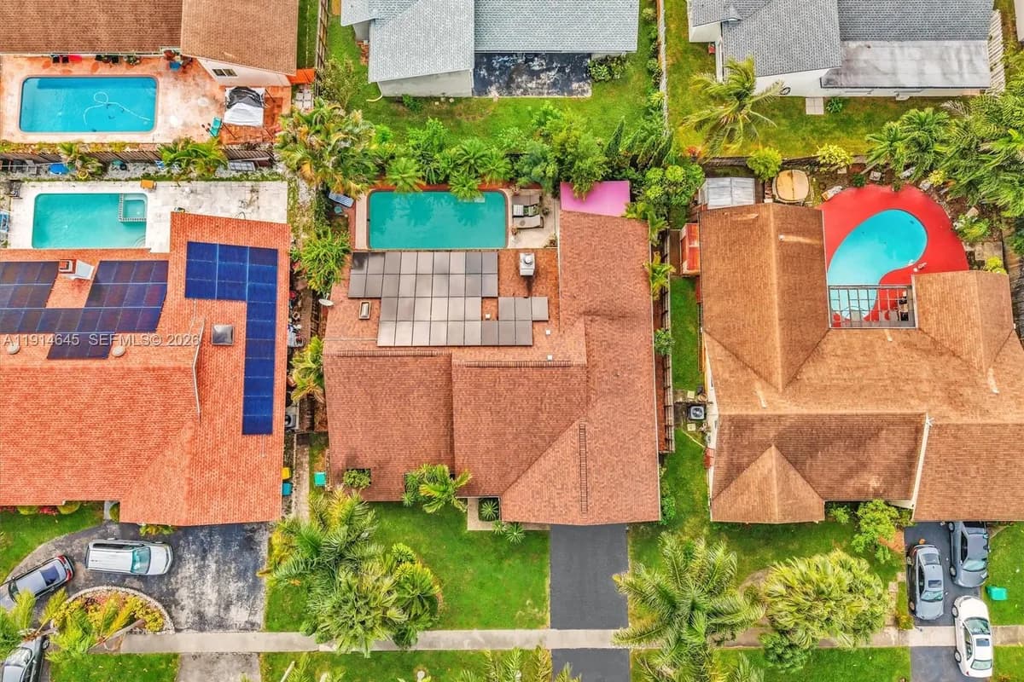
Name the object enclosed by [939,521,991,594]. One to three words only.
car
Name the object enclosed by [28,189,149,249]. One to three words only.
swimming pool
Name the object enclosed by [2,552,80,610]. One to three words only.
car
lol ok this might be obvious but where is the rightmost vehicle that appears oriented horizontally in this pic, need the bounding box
[84,537,176,579]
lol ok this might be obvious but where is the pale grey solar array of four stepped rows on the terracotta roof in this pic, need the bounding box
[348,251,549,345]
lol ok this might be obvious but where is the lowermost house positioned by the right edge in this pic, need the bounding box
[696,201,1024,523]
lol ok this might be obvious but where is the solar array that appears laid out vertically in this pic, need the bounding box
[185,242,278,435]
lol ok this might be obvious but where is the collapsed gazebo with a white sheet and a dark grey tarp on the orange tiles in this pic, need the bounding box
[224,86,277,138]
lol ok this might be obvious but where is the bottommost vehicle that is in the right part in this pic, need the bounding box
[945,593,993,679]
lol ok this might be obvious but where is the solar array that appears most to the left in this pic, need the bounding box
[0,261,167,357]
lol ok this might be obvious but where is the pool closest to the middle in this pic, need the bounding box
[366,187,510,249]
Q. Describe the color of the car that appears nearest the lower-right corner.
white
